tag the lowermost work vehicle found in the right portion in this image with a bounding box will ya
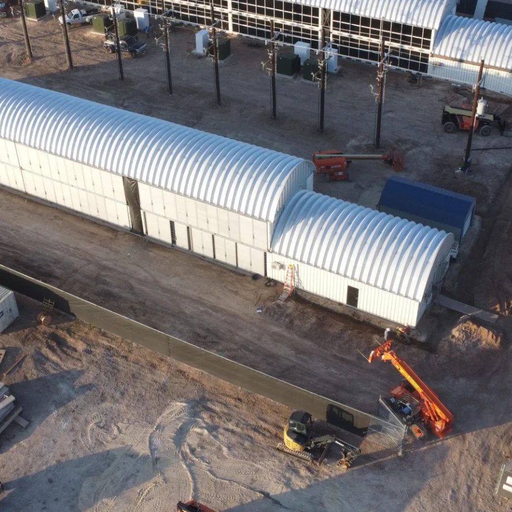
[279,407,365,473]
